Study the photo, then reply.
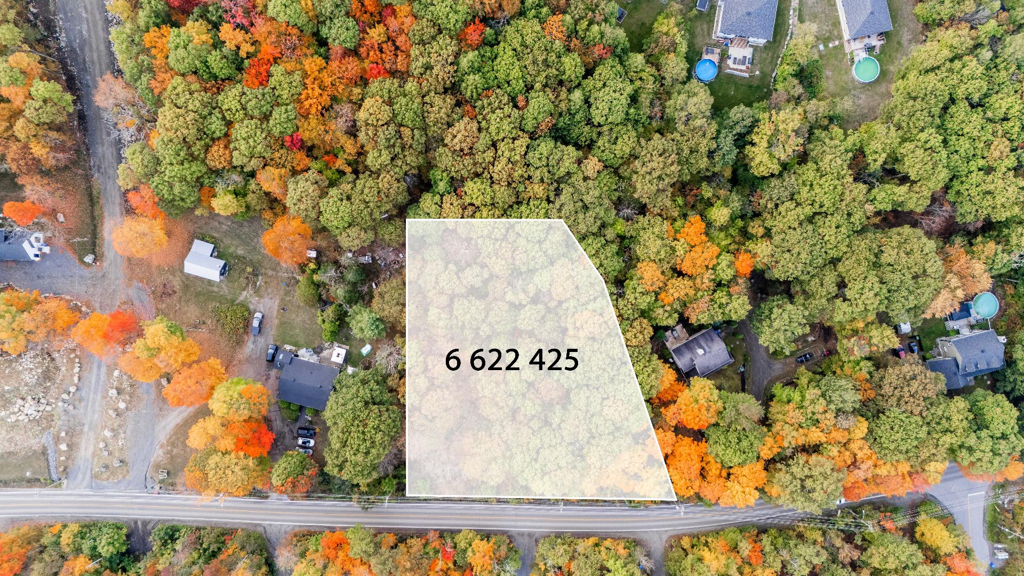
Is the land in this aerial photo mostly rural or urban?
rural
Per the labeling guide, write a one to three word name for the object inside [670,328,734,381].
house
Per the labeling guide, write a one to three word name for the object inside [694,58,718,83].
swimming pool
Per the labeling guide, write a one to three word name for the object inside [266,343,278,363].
vehicle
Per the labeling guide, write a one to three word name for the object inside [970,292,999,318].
swimming pool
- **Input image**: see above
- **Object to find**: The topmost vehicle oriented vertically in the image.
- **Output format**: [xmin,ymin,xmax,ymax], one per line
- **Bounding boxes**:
[251,313,264,335]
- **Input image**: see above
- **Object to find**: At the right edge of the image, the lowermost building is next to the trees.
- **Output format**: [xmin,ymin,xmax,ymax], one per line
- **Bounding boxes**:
[922,329,1017,391]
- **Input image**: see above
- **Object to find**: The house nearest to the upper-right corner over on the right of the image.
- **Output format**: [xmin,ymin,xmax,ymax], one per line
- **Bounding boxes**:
[835,0,893,41]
